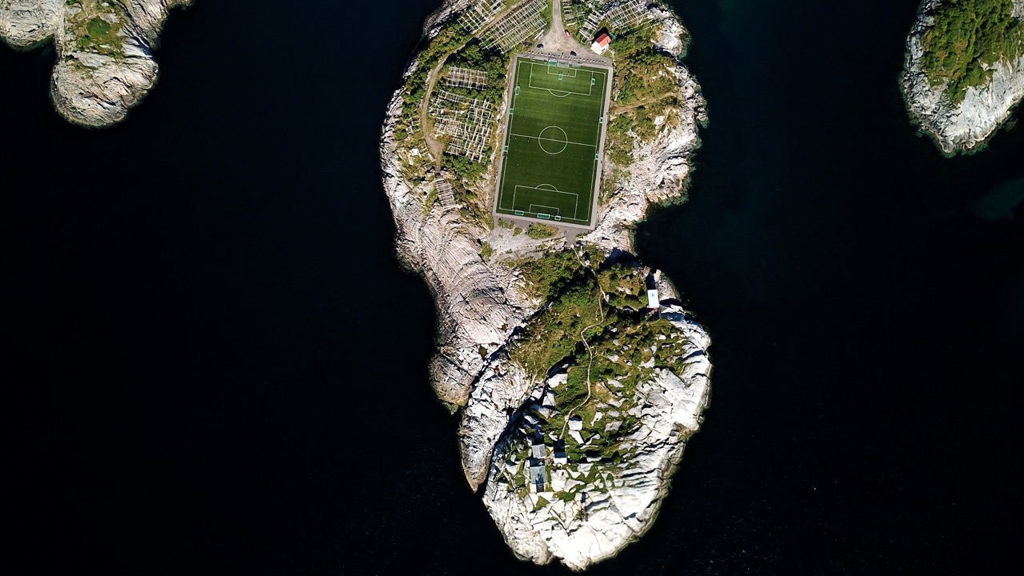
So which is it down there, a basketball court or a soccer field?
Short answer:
soccer field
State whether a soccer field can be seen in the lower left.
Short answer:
No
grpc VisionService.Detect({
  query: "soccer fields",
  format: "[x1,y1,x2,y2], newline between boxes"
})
[492,54,613,229]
